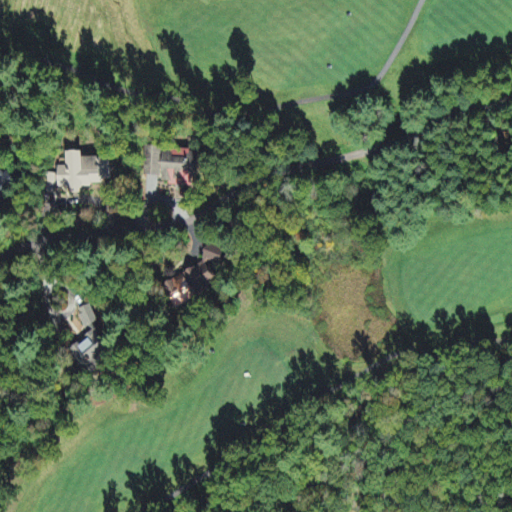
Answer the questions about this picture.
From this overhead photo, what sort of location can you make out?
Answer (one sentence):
This image shows a golf course.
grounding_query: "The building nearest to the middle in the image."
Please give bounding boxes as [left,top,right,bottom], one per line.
[202,245,221,276]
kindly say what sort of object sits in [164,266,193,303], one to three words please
house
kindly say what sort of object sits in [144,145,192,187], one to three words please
house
